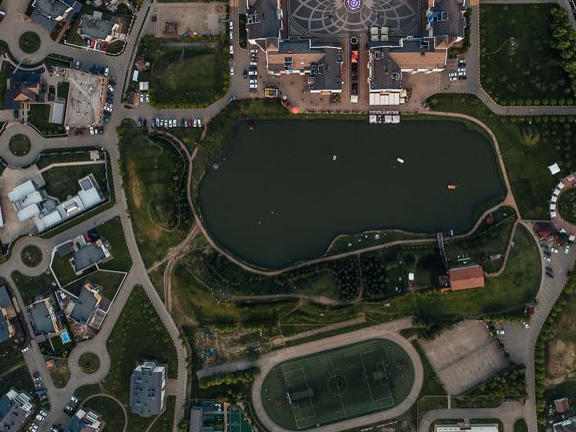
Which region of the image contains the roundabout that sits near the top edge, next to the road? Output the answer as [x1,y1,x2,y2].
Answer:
[10,21,51,62]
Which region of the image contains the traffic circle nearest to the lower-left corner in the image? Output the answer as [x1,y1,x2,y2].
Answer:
[69,342,109,383]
